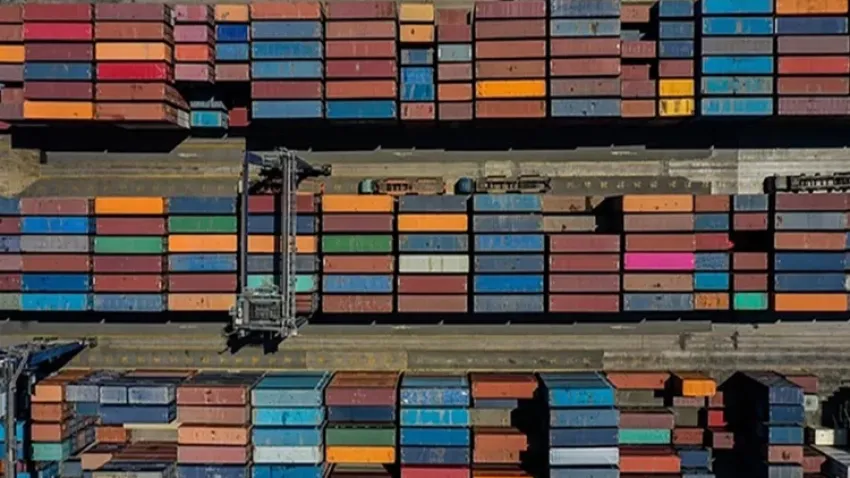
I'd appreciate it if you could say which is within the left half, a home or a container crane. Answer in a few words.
container crane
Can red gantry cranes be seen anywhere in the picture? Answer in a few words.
No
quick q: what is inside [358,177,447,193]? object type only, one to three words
vehicle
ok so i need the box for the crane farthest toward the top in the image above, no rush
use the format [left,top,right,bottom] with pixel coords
[222,144,334,339]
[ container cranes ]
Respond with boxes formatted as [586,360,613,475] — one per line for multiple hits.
[222,144,334,339]
[0,337,97,478]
